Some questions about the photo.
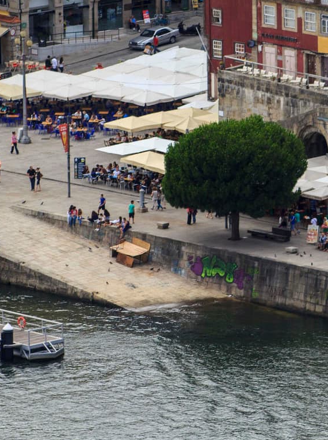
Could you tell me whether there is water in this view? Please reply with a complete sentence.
Yes, some water is visible.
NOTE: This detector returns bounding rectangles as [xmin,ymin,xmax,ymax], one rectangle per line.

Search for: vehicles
[128,29,181,50]
[180,21,203,37]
